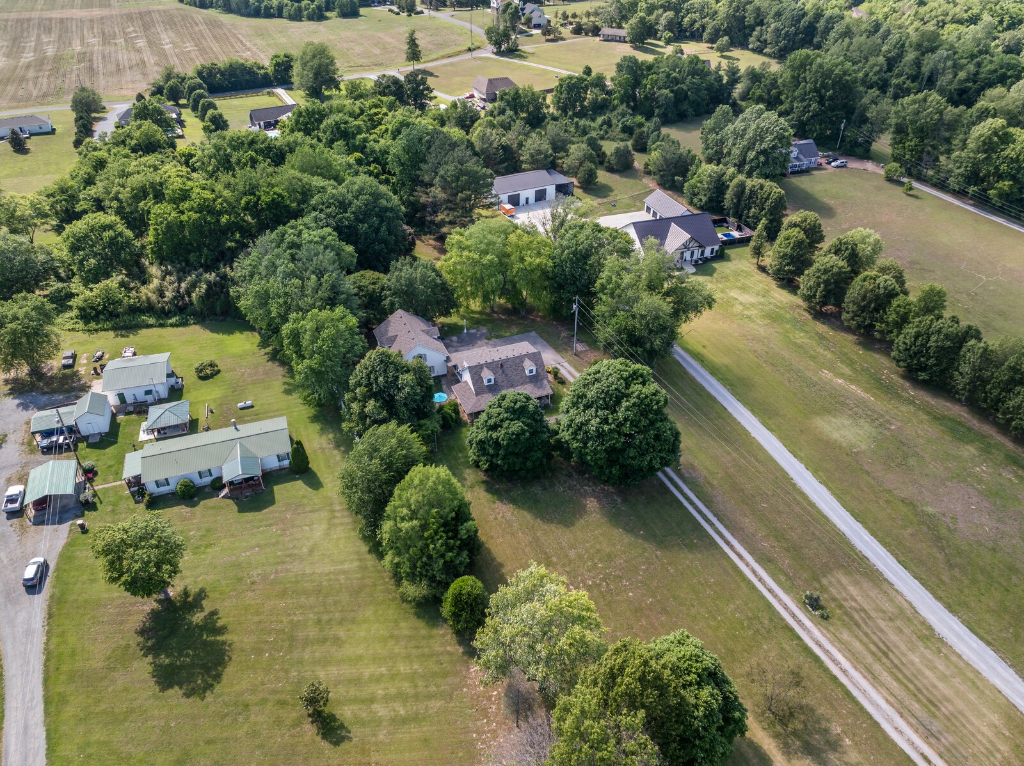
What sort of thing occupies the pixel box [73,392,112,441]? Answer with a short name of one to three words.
shed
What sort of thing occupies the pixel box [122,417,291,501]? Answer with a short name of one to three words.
house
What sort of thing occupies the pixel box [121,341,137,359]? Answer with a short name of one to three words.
vehicle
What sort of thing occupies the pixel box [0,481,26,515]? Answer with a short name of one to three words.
truck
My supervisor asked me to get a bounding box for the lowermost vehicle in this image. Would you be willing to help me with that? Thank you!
[16,556,45,591]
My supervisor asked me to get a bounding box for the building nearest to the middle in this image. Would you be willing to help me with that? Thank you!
[444,342,557,426]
